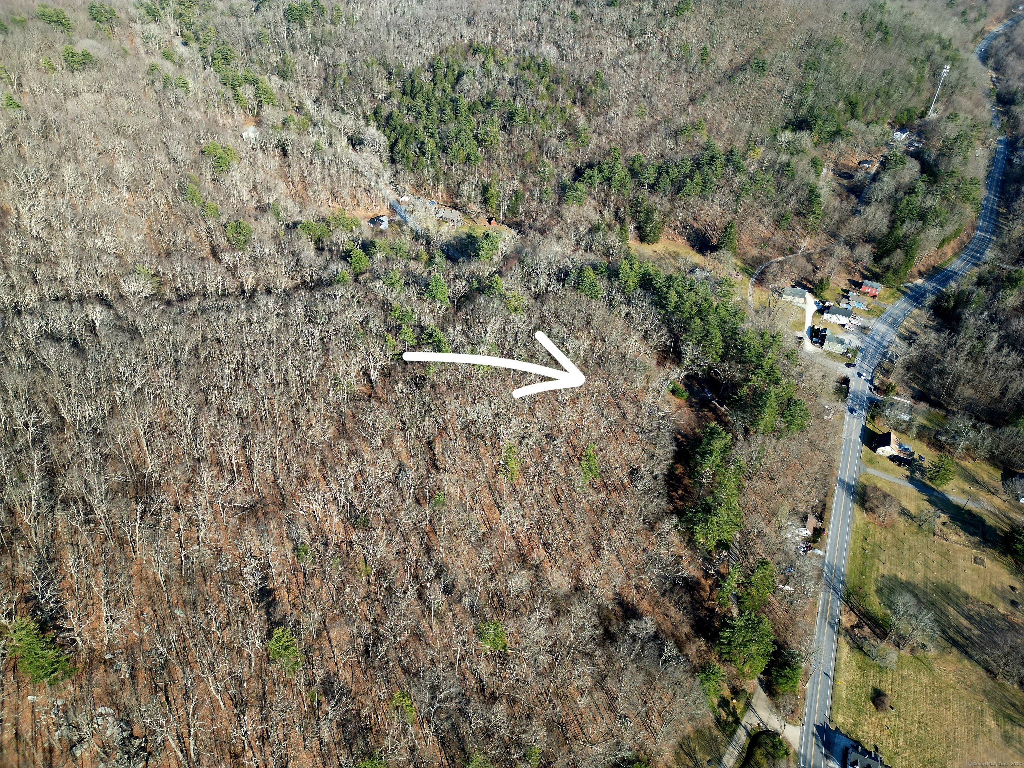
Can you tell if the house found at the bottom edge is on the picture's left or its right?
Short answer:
right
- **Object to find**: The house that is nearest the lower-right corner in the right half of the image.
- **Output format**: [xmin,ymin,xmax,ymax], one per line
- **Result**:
[851,735,898,768]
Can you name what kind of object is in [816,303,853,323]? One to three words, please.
house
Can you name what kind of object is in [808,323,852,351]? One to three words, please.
building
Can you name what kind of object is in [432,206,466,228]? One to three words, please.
house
